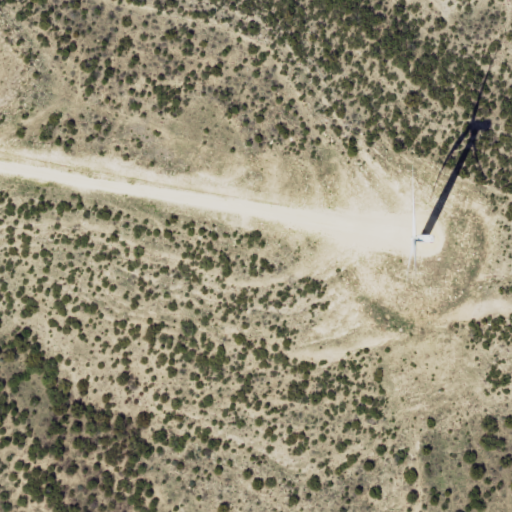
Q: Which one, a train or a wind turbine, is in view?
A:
wind turbine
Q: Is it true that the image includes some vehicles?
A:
No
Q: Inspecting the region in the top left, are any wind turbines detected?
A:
No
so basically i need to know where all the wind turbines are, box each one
[402,170,435,299]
